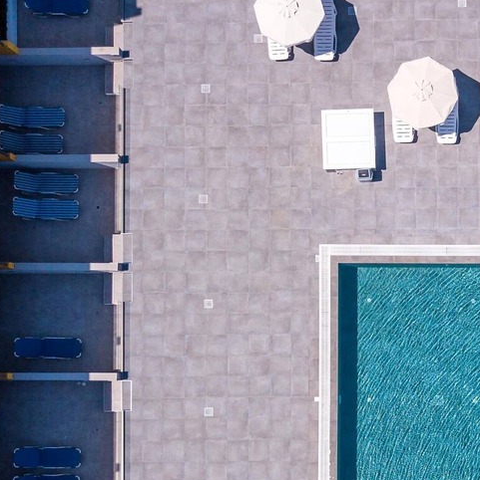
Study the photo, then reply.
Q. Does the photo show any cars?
No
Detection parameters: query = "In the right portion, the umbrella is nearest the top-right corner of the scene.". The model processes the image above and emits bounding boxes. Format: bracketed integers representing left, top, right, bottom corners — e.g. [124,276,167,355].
[387,57,459,130]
